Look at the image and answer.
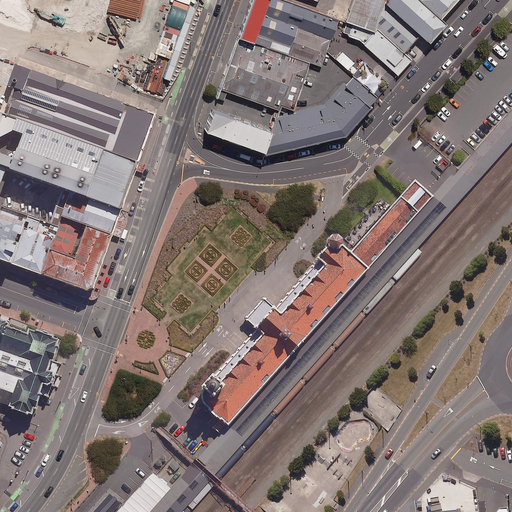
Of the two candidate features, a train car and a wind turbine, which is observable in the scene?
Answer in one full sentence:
Of the two, only a train car appears.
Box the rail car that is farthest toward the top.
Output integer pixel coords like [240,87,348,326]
[394,250,423,280]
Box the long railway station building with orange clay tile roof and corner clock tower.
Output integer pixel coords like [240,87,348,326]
[200,180,434,428]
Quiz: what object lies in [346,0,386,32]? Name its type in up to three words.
shed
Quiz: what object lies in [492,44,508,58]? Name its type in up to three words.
vehicle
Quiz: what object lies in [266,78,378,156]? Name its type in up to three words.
building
